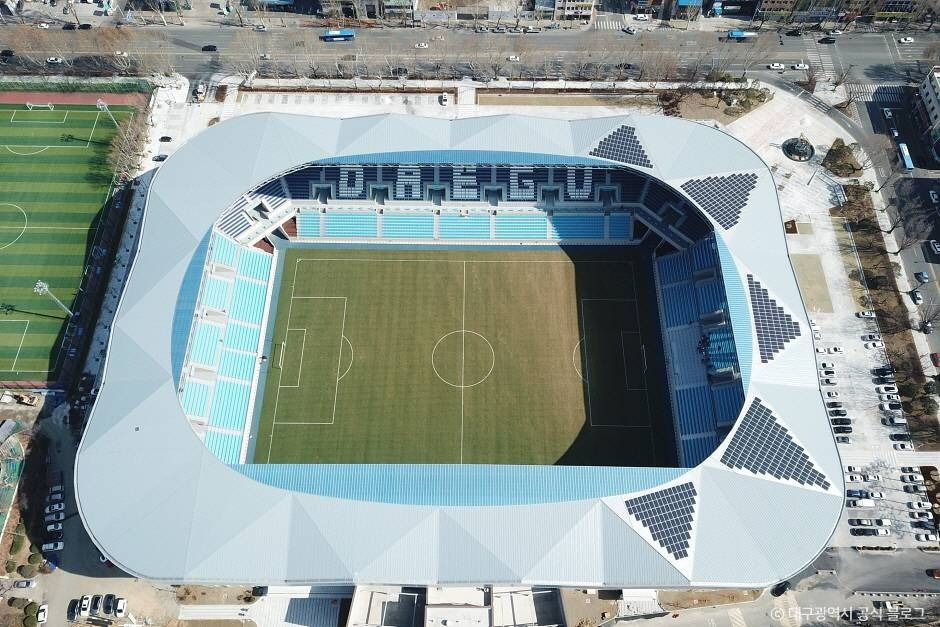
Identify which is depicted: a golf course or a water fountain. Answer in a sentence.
It is a water fountain that can be seen here.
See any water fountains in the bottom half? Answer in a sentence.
No, I see no water fountain in the bottom half.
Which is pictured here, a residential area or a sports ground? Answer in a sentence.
What you see here is a sports ground.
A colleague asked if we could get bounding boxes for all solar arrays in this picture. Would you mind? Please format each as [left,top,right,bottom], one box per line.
[725,397,827,494]
[592,127,654,161]
[627,479,700,557]
[749,277,800,356]
[684,175,757,226]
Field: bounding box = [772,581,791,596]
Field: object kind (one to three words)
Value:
car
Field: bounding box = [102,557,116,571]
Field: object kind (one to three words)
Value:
vehicle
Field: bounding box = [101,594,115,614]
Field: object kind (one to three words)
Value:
vehicle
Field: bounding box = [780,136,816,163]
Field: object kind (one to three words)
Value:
fountain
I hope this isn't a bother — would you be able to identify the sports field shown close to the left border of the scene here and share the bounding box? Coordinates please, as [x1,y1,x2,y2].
[0,95,146,386]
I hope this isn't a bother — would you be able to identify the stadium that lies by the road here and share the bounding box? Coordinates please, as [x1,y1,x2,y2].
[74,112,845,588]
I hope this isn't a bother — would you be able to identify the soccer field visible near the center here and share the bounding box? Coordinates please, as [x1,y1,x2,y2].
[255,249,669,468]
